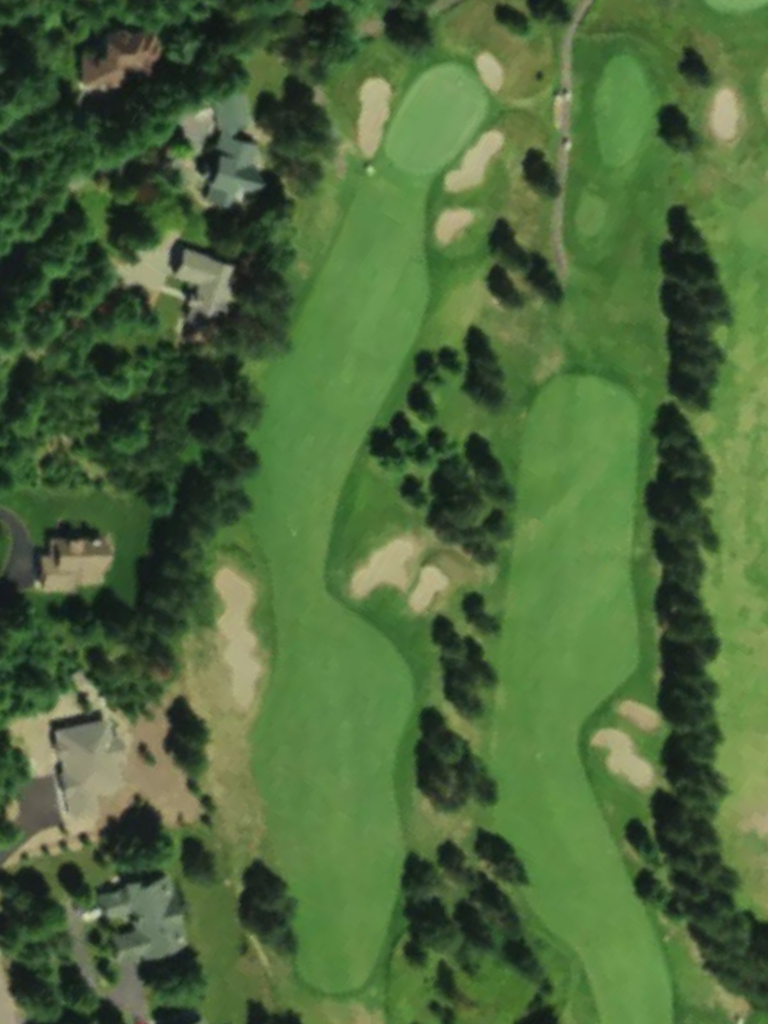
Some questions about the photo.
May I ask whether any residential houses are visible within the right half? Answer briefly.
No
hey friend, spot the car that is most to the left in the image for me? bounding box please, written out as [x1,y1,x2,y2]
[83,908,102,921]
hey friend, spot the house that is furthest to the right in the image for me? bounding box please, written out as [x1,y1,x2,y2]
[205,93,268,206]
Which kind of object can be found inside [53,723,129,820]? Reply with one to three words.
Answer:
house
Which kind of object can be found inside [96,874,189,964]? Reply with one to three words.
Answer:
house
